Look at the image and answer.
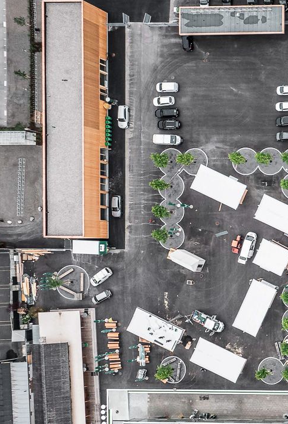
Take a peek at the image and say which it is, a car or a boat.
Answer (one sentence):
The image shows a car.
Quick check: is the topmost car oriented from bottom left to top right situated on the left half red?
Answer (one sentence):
No, the topmost car oriented from bottom left to top right situated on the left half is actually white.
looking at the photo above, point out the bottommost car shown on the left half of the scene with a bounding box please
[92,288,115,306]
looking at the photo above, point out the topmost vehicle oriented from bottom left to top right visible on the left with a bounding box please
[90,266,114,287]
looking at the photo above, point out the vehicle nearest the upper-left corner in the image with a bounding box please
[116,105,130,129]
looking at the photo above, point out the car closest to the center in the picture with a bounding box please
[110,193,123,217]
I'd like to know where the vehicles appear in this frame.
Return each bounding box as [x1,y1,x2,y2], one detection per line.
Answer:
[220,0,233,6]
[155,81,180,93]
[110,193,123,217]
[116,105,130,129]
[151,133,182,146]
[90,266,114,287]
[155,107,180,118]
[197,0,210,6]
[158,118,183,130]
[235,231,258,264]
[275,100,288,112]
[277,0,288,13]
[275,116,288,127]
[276,130,288,142]
[182,35,195,56]
[245,0,257,6]
[153,94,177,106]
[191,309,226,333]
[229,234,241,254]
[92,288,115,306]
[276,85,288,96]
